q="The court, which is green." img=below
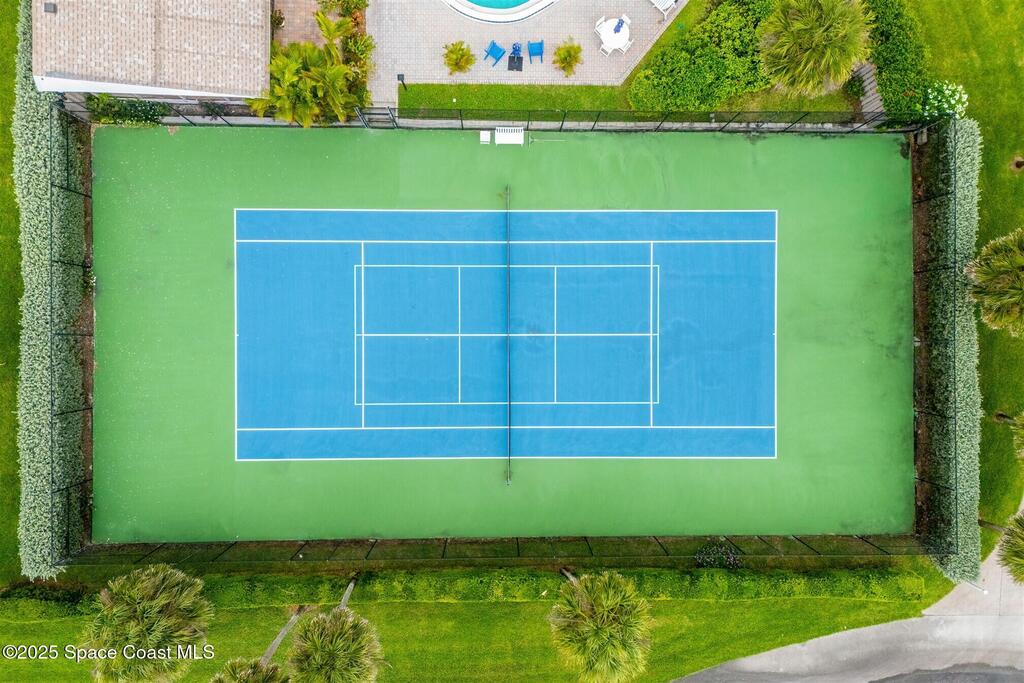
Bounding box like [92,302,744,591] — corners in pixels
[92,125,915,543]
